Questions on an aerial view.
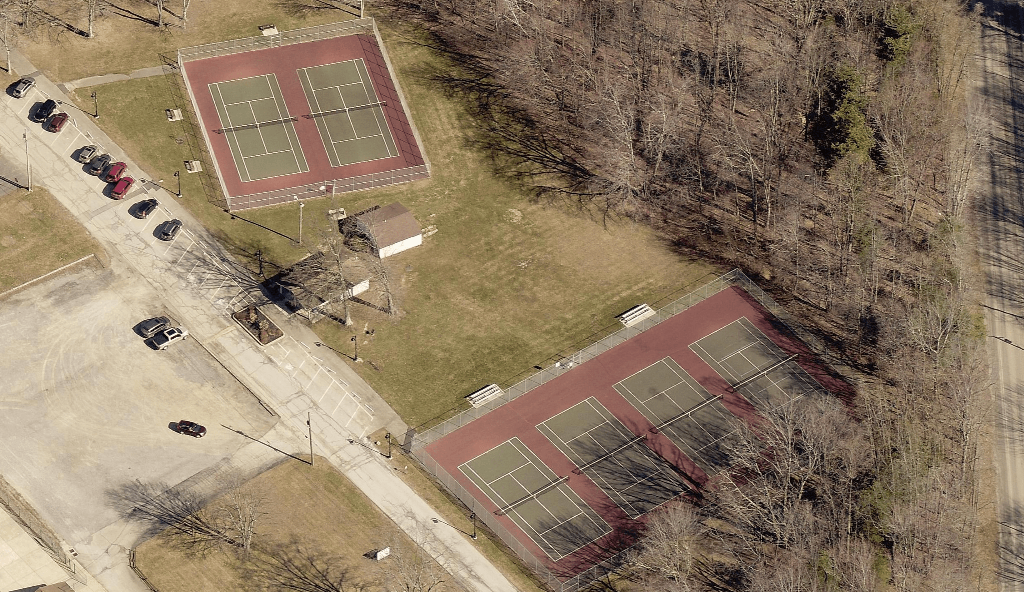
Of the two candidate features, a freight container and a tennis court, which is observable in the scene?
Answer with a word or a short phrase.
tennis court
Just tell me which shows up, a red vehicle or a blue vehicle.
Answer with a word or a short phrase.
red vehicle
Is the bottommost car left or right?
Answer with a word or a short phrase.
left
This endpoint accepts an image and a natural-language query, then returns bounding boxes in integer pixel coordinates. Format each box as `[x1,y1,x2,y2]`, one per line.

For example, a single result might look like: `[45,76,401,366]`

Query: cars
[159,222,182,244]
[10,79,34,100]
[88,158,109,179]
[133,200,160,221]
[76,147,97,167]
[105,163,127,185]
[110,179,133,202]
[46,114,67,135]
[35,100,59,124]
[173,419,206,441]
[137,320,171,340]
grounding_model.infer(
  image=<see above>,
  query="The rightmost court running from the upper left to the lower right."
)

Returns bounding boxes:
[690,317,842,435]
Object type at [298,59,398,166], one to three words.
tennis court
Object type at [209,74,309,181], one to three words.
tennis court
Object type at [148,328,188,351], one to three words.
truck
